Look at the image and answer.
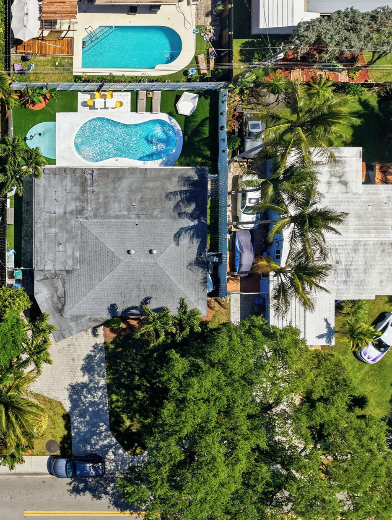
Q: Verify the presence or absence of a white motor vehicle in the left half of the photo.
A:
No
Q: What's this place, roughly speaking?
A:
residential area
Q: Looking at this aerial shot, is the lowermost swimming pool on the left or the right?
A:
left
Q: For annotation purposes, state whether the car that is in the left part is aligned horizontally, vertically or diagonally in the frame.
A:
horizontally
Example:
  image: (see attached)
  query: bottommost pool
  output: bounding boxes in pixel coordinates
[73,115,178,163]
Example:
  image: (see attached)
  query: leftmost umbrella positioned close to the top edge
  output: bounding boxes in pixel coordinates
[19,0,45,29]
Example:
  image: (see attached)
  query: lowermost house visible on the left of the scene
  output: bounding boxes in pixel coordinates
[33,166,209,341]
